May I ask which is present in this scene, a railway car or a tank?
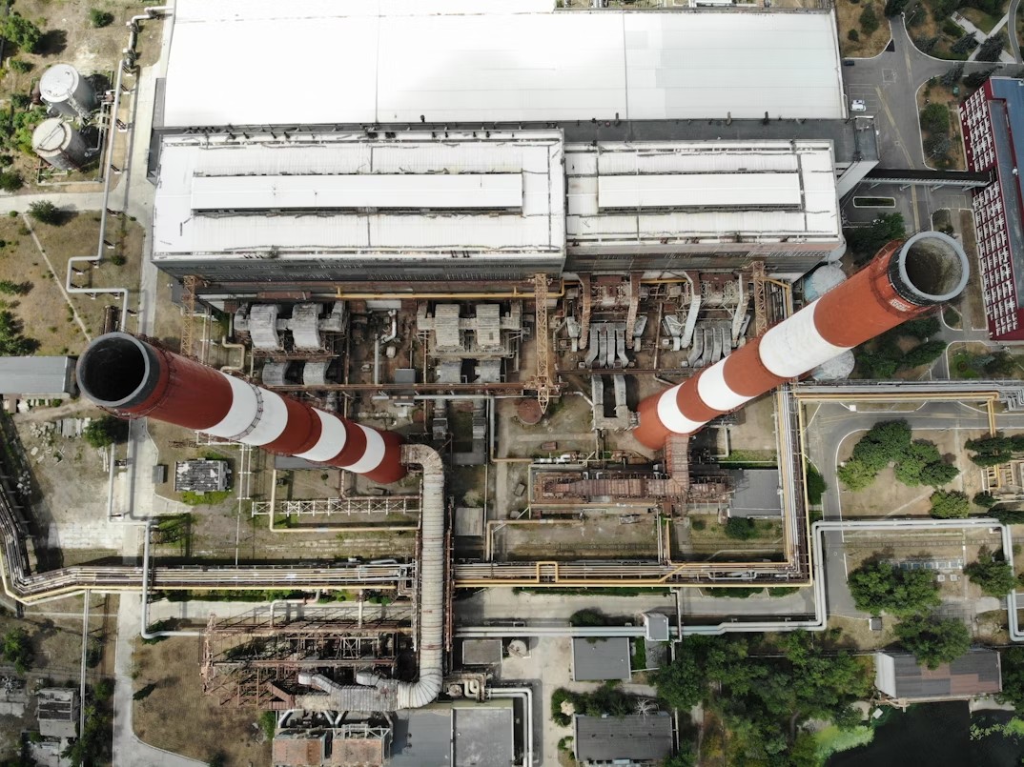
tank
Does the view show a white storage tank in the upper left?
Yes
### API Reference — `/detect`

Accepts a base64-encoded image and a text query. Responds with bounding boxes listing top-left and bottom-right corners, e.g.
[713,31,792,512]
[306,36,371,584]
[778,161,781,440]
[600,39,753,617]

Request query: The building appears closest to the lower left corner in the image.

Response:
[34,685,82,741]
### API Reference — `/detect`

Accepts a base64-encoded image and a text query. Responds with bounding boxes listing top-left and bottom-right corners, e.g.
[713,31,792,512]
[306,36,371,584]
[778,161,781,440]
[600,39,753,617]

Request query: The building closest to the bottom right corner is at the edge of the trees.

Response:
[867,651,1006,703]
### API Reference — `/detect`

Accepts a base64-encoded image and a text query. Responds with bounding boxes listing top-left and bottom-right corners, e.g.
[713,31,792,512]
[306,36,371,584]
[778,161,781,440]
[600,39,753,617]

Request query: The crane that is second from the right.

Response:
[526,285,561,412]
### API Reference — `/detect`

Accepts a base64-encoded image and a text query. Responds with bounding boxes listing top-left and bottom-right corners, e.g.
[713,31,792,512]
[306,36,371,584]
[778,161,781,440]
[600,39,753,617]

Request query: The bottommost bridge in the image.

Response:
[252,498,420,516]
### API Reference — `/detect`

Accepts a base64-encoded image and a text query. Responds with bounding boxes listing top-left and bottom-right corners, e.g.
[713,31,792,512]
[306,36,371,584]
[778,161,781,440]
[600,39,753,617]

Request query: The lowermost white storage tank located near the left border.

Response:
[33,122,84,167]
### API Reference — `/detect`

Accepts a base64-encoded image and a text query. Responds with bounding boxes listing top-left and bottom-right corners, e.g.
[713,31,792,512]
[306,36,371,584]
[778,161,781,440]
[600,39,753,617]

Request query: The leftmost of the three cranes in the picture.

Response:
[179,279,220,360]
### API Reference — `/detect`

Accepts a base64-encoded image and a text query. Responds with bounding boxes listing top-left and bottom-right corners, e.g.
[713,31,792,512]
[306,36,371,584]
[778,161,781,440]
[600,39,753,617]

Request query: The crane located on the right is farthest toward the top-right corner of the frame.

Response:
[746,267,768,340]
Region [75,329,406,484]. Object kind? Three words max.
chimney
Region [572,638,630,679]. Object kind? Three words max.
building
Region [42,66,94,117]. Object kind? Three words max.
storage tank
